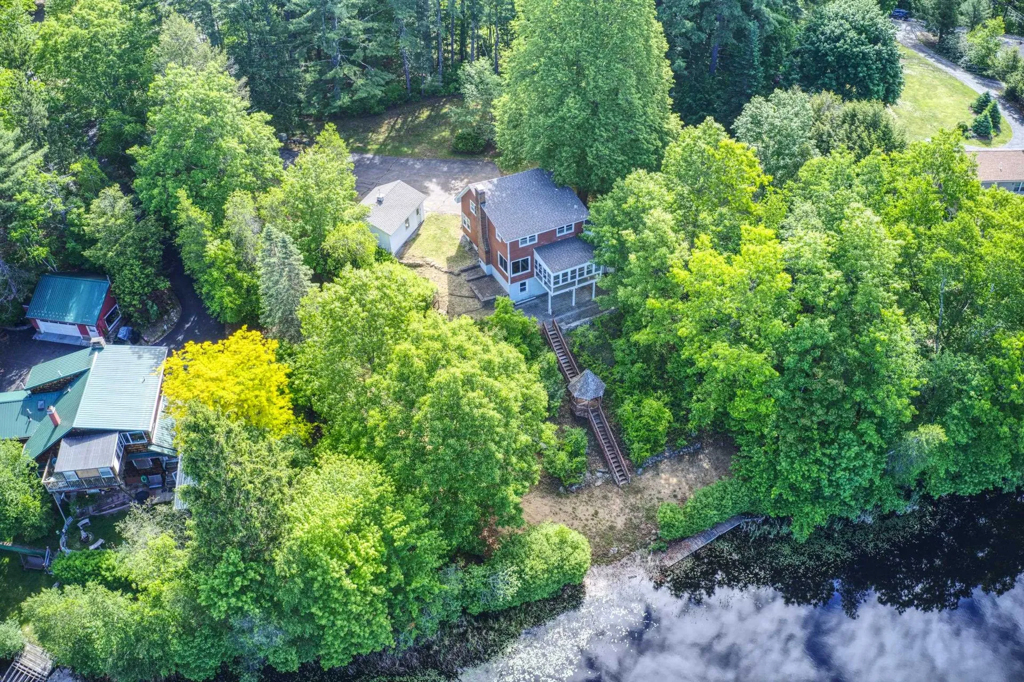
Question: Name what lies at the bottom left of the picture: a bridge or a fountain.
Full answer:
There is a fountain at the bottom left of the picture.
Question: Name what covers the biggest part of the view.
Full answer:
Most of the picture is covered by trees.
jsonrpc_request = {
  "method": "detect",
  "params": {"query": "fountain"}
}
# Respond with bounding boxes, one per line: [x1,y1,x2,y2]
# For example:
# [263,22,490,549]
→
[71,525,104,551]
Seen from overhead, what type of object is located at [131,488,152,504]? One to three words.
umbrella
